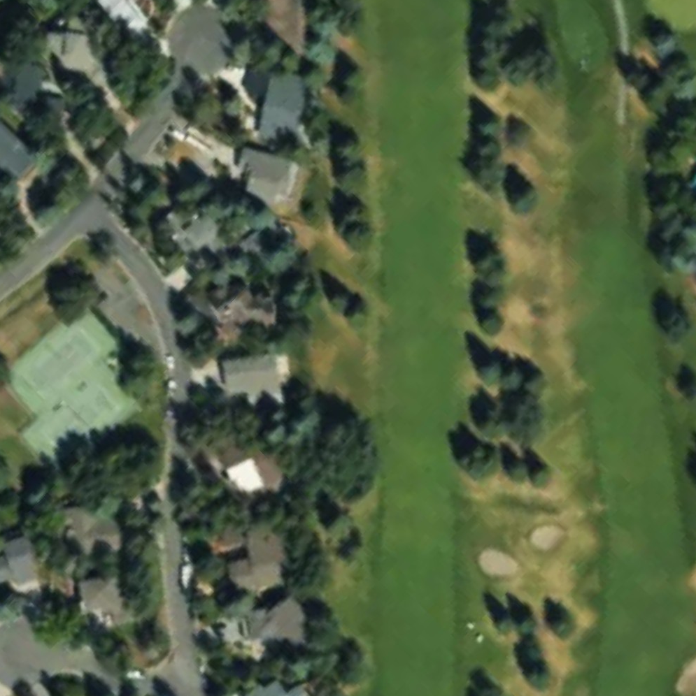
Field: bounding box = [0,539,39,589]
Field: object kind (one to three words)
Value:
house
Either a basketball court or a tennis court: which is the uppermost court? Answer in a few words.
tennis court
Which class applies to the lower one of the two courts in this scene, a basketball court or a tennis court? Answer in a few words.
tennis court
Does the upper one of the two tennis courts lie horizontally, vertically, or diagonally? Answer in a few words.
diagonally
